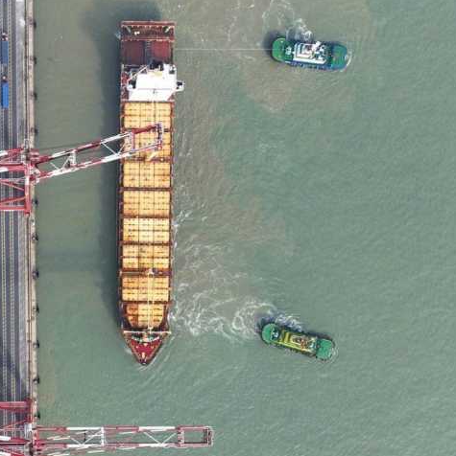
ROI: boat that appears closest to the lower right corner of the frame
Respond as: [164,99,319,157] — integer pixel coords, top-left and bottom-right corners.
[259,321,335,361]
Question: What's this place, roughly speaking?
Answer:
port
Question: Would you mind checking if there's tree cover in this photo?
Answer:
No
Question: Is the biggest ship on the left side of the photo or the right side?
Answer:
left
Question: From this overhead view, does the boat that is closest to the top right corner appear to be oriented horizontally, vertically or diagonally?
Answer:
horizontally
